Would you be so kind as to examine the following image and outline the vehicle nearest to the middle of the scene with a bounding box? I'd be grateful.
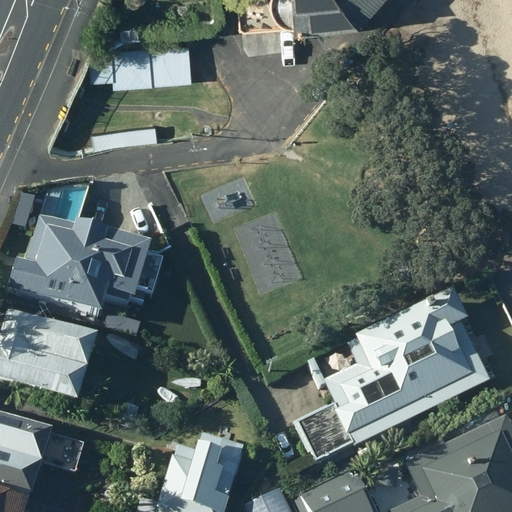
[130,206,148,234]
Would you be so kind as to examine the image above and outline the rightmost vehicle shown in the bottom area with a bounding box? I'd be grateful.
[276,432,295,458]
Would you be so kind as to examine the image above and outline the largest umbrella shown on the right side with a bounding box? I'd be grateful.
[328,352,346,371]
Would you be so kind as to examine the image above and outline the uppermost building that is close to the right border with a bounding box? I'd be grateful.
[325,286,497,445]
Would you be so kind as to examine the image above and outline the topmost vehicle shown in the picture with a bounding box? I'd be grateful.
[280,32,294,66]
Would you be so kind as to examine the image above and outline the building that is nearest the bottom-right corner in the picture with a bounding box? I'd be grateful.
[390,414,512,512]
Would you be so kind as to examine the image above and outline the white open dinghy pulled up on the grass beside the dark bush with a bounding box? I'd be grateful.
[158,386,178,404]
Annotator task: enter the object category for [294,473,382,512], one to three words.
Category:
house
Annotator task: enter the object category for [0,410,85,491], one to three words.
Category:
house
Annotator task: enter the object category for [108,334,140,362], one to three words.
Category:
boat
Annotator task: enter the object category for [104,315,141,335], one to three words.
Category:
shed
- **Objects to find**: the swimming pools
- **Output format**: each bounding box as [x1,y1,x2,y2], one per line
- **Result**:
[40,183,90,221]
